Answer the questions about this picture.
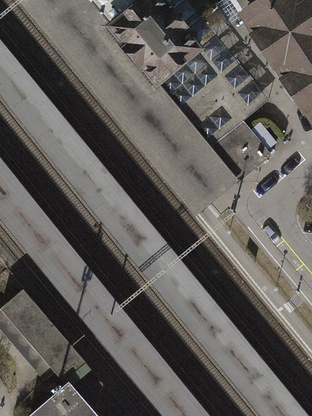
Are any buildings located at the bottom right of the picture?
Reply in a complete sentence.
No, at the bottom right of the picture there is no building.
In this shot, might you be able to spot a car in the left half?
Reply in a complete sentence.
No, in the left half there is no car.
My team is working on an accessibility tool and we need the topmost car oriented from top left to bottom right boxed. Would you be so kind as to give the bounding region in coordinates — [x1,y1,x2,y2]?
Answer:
[297,112,312,130]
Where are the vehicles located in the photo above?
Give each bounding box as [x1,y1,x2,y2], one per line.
[281,153,302,172]
[302,224,312,233]
[256,174,278,194]
[297,112,312,130]
[262,222,282,244]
